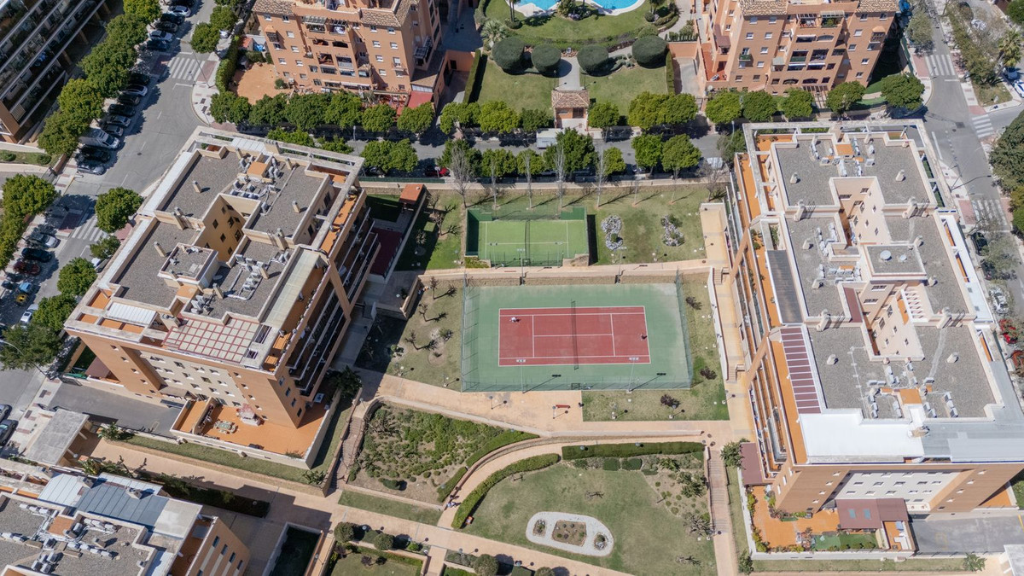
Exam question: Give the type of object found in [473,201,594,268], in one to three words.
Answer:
sports court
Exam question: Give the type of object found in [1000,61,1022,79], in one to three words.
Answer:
car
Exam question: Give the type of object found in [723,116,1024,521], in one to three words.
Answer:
building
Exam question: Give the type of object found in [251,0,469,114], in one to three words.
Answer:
building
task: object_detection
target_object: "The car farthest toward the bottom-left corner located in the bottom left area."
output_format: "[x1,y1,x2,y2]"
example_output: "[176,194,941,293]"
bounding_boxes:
[0,415,20,444]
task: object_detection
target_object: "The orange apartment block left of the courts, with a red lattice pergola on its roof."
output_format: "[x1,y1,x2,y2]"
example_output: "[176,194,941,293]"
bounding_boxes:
[59,130,383,430]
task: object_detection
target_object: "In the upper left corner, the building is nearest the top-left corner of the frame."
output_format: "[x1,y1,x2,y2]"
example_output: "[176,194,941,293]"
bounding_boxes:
[0,0,120,142]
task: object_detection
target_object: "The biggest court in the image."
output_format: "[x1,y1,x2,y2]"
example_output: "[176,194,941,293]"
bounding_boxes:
[462,282,692,393]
